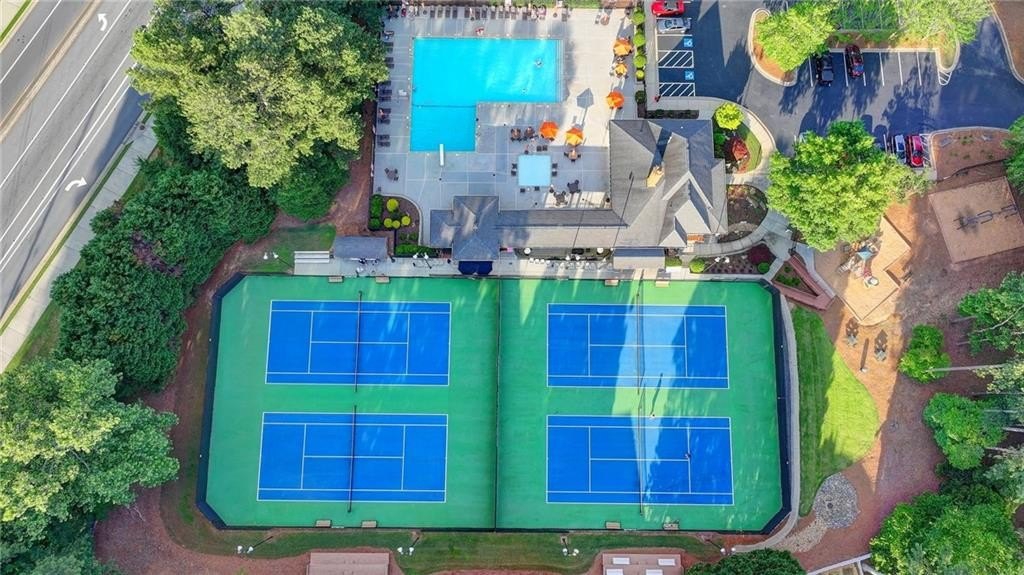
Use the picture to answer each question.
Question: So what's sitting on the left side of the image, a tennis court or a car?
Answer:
tennis court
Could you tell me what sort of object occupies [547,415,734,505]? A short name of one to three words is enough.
tennis court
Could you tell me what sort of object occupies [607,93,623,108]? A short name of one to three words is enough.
umbrella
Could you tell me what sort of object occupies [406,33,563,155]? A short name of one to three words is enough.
swimming pool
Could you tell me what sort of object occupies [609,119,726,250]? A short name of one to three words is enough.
building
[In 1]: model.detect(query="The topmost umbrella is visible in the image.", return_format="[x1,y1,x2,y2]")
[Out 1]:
[614,39,631,55]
